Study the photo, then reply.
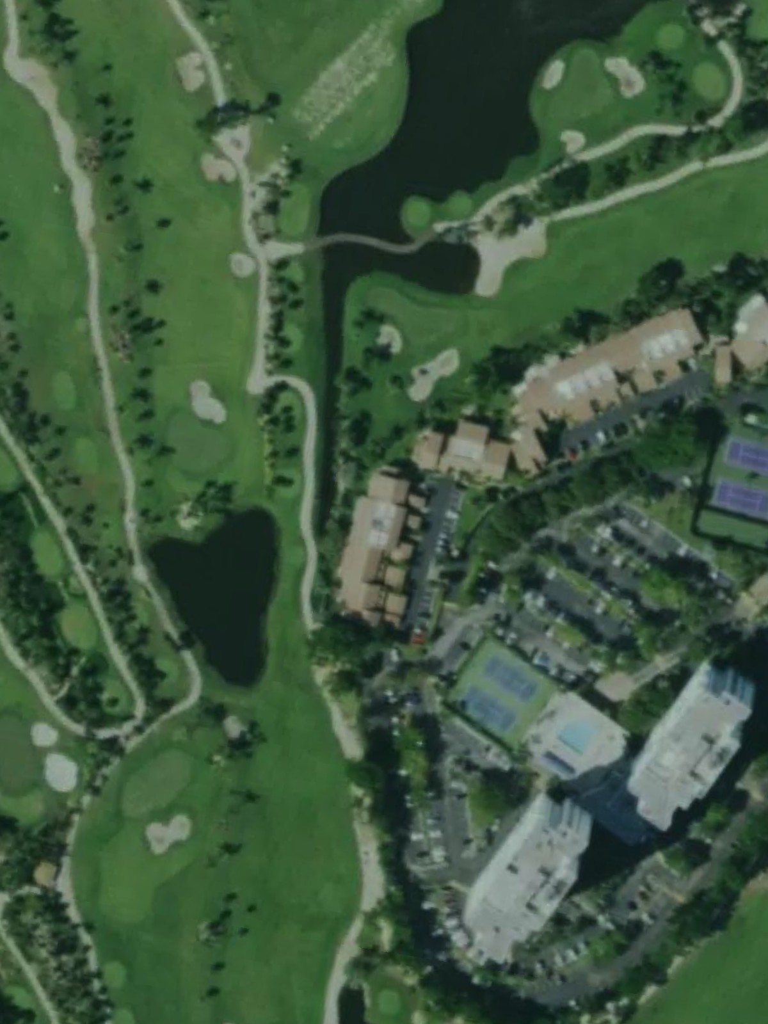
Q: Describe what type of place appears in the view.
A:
golf course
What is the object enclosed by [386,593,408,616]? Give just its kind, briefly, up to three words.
building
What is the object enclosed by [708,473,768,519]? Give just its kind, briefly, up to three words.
tennis court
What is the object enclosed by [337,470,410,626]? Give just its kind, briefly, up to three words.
building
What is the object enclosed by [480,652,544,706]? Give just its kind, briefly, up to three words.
tennis court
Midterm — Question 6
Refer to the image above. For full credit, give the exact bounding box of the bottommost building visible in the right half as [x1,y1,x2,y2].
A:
[467,796,590,967]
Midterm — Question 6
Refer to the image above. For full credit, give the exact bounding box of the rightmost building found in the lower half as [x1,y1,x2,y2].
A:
[628,661,751,831]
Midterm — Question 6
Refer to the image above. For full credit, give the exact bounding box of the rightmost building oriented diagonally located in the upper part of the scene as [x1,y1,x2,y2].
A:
[510,306,703,475]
